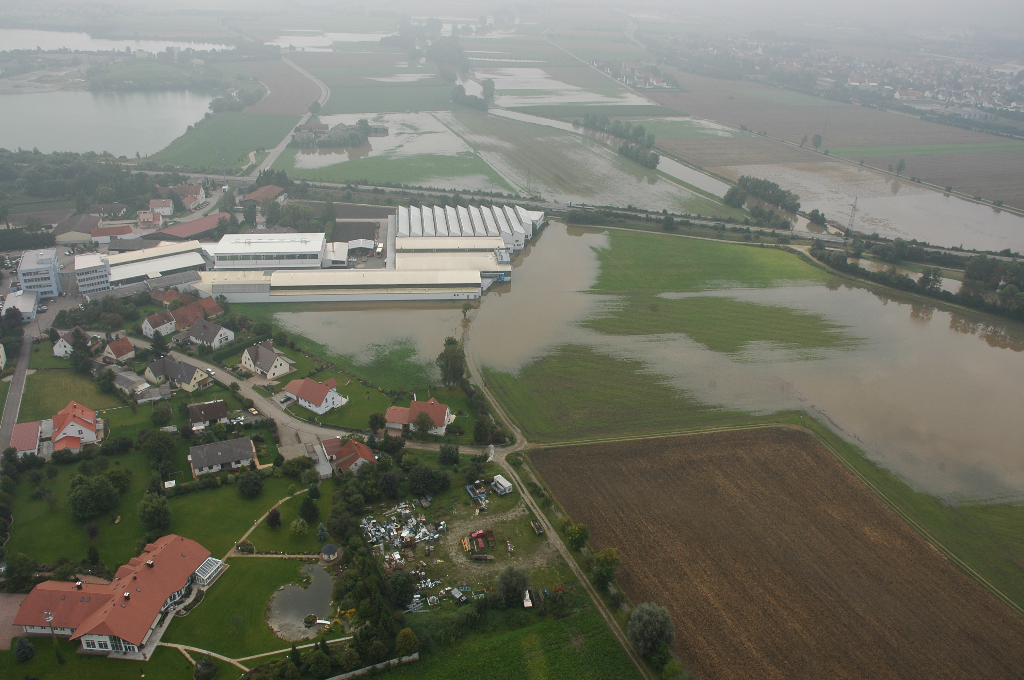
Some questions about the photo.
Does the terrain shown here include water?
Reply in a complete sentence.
Yes, there is water in the image.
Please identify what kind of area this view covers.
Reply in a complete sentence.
What you see here is a residential area.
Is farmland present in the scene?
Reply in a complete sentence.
Yes, farmland shows up in the scene.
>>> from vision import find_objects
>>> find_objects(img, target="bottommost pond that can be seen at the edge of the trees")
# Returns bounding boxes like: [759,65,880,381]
[267,561,333,639]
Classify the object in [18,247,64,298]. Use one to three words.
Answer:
building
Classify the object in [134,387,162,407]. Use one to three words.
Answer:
shed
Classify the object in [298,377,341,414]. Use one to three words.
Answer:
house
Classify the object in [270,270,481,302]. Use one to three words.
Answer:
building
